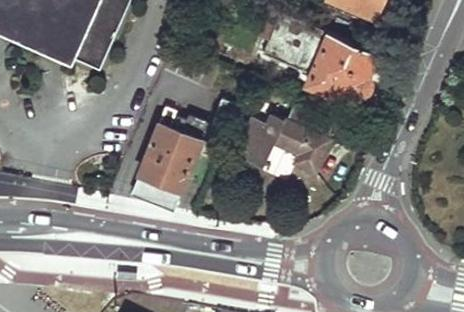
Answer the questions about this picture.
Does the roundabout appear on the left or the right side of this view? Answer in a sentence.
It is on the right.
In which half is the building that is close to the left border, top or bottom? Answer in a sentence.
It is in the top half that the building that is close to the left border appears.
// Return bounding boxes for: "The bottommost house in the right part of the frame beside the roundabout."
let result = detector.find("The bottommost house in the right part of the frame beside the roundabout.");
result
[246,114,334,176]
